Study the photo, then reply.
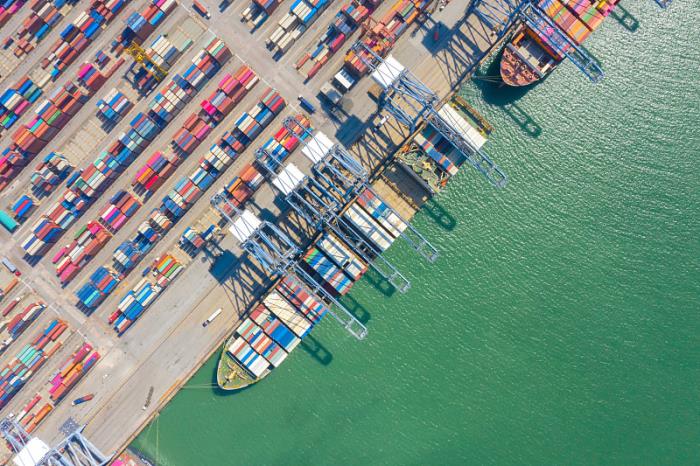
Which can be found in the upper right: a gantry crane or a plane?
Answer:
gantry crane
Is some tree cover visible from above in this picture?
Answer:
No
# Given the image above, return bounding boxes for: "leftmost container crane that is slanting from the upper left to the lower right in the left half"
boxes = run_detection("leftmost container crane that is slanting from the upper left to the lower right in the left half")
[124,40,174,86]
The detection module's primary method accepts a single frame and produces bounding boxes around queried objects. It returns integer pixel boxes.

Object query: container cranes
[0,413,117,466]
[124,40,174,86]
[282,115,440,266]
[252,147,410,298]
[210,192,368,342]
[358,20,399,64]
[463,0,608,89]
[354,39,513,190]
